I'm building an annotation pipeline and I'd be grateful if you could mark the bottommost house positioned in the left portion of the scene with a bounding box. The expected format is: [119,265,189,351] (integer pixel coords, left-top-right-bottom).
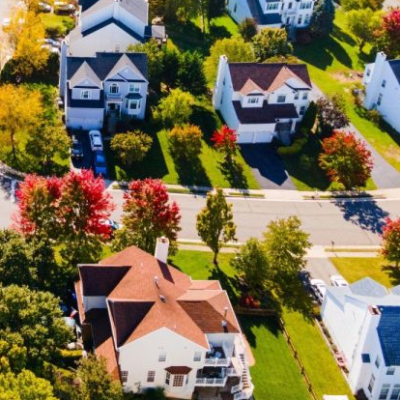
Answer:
[59,241,248,400]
